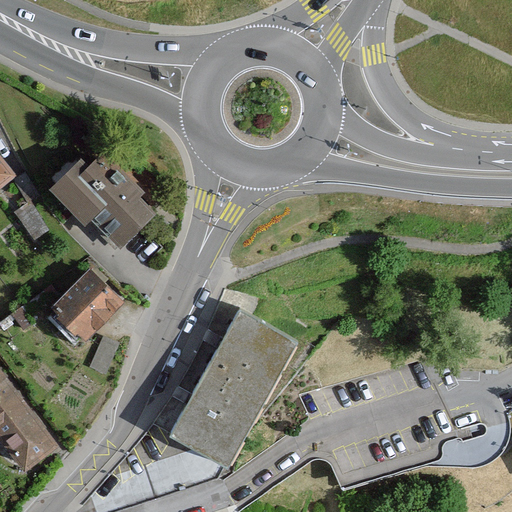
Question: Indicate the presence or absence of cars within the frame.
Yes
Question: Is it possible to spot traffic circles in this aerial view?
Yes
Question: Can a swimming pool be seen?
No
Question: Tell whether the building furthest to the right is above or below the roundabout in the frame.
below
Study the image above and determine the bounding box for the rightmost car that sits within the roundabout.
[297,72,317,89]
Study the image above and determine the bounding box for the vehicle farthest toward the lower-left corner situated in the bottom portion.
[98,474,119,496]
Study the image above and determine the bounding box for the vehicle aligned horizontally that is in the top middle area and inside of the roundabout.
[246,48,267,60]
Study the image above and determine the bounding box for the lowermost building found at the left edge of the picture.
[0,366,59,472]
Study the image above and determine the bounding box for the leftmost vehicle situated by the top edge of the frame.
[17,8,35,22]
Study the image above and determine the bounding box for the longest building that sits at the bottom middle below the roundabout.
[171,310,297,466]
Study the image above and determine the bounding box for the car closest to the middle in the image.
[196,288,210,308]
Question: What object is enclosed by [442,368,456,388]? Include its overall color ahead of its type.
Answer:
white vehicle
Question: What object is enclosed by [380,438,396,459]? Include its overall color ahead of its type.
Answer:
white car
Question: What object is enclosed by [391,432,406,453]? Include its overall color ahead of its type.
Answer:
white car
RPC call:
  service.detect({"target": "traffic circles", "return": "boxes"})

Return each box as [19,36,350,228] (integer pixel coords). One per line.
[179,24,346,190]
